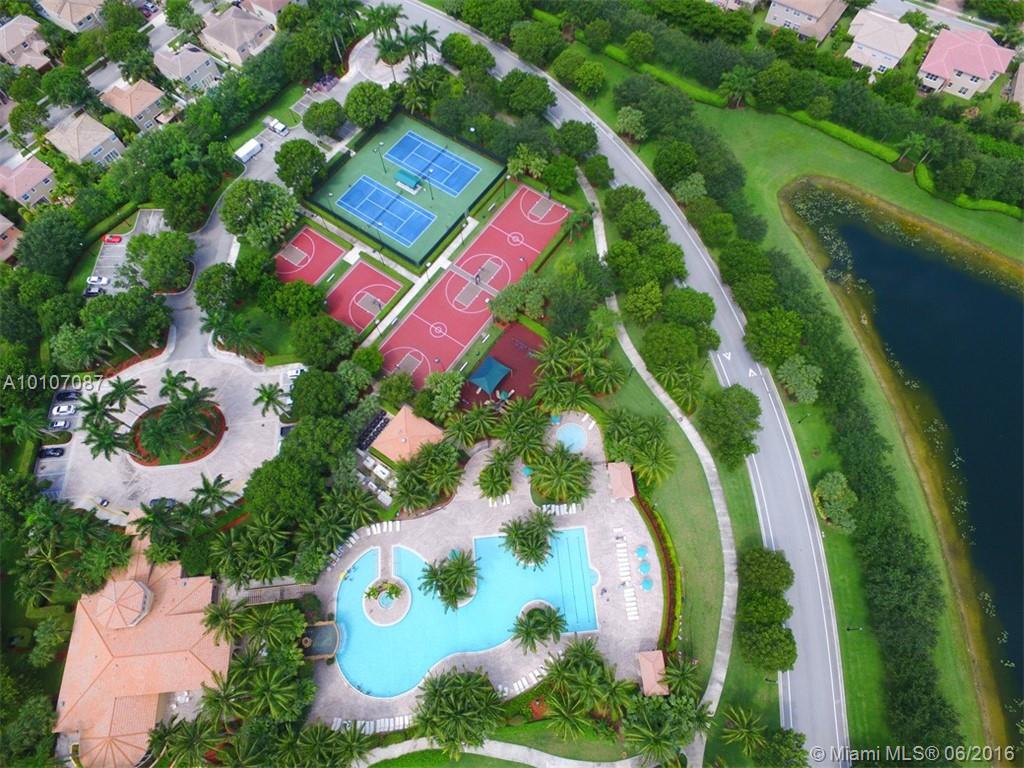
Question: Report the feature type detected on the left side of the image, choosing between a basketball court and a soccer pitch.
basketball court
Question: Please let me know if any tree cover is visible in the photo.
Yes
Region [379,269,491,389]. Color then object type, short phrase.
red basketball court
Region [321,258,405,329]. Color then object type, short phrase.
red basketball court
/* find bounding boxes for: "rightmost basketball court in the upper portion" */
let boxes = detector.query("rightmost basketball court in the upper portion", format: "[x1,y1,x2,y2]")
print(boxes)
[452,183,573,288]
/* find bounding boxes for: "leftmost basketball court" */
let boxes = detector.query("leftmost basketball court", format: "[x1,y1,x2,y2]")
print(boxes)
[273,224,346,283]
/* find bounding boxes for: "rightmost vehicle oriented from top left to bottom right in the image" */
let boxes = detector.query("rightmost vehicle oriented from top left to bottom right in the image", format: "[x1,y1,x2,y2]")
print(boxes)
[268,118,286,133]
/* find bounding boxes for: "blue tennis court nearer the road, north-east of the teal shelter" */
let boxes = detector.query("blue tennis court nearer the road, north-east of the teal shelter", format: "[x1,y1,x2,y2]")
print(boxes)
[384,130,481,196]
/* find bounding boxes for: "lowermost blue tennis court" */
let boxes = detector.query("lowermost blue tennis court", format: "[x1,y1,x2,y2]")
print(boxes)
[336,175,437,246]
